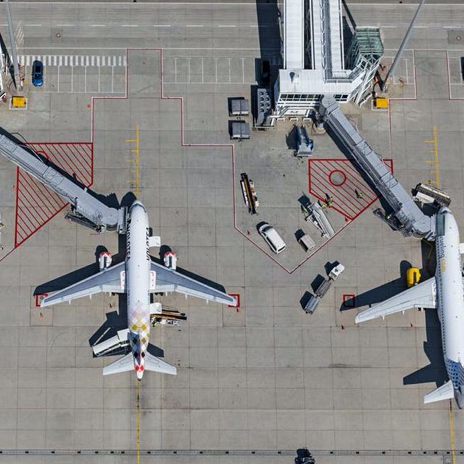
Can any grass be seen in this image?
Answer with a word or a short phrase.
No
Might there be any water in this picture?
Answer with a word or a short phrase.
No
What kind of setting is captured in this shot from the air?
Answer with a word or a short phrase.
airport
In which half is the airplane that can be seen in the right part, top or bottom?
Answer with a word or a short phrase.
bottom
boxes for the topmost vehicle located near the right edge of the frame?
[416,183,451,208]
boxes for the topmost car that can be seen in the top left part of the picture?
[32,62,44,86]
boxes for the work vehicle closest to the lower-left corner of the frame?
[150,310,188,324]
